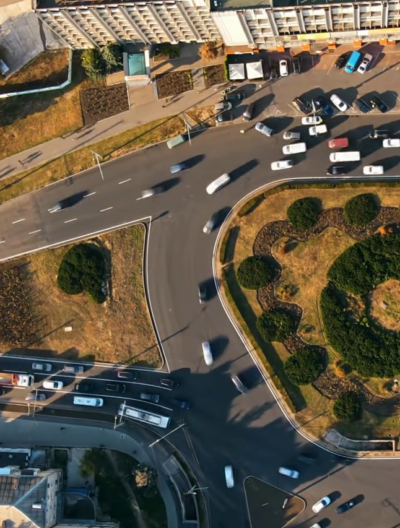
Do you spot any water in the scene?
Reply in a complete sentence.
No, there's no water in this view.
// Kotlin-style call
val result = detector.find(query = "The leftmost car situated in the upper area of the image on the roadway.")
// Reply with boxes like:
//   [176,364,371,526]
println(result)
[49,201,67,214]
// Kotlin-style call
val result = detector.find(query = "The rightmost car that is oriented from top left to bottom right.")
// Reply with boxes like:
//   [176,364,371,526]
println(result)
[370,95,388,114]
